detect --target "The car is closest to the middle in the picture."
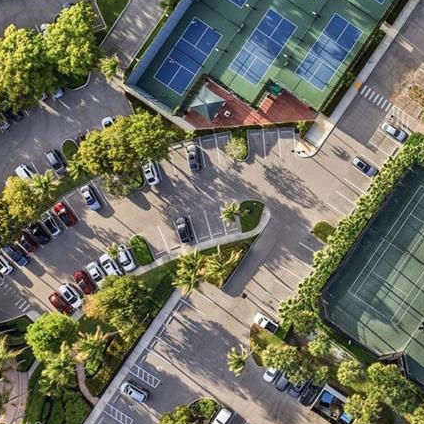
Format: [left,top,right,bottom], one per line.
[176,217,192,243]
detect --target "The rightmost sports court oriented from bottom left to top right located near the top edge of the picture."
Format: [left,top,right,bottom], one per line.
[294,12,363,90]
